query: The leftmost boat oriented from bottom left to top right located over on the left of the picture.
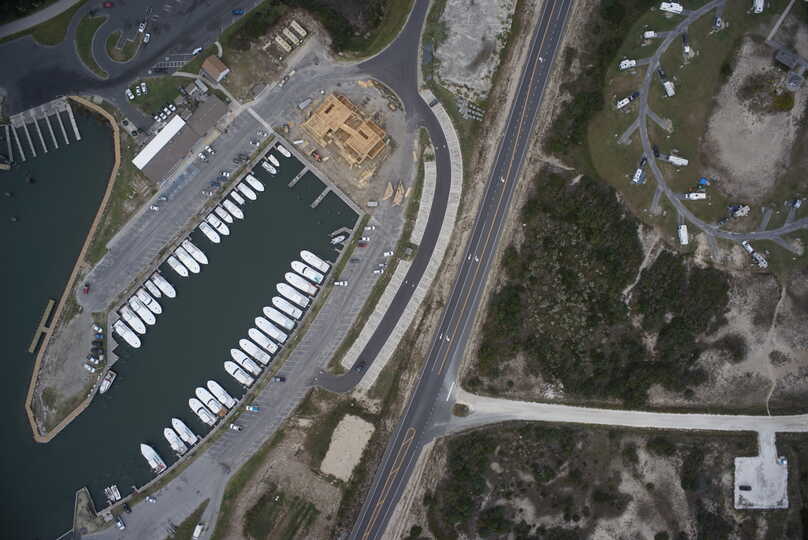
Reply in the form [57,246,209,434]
[99,369,117,394]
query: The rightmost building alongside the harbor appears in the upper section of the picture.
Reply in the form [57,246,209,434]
[300,91,385,161]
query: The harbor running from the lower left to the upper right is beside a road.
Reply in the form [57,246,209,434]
[56,139,363,540]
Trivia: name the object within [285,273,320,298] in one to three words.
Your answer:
boat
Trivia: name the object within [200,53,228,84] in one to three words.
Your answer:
house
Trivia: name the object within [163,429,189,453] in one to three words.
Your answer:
boat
